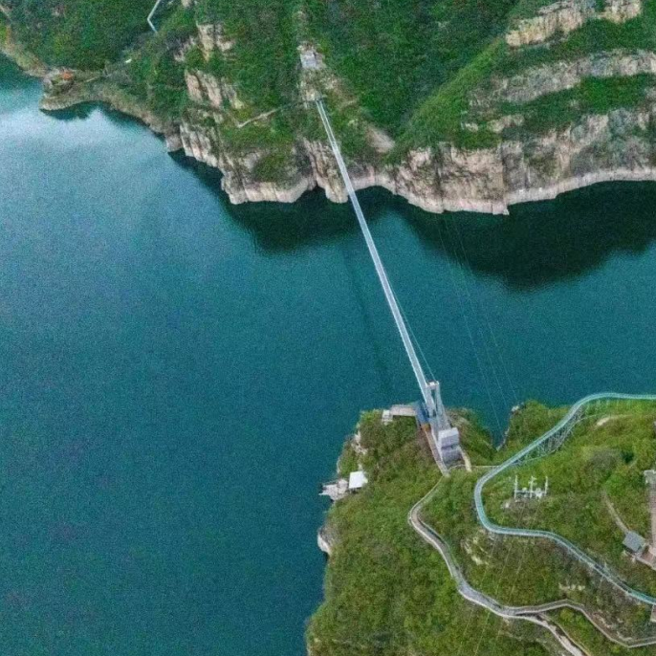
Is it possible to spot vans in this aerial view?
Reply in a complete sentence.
No, the scene contains no van.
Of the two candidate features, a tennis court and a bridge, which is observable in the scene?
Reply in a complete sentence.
Visible in the photo is a bridge.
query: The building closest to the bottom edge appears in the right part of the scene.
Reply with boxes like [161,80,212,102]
[621,532,649,562]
